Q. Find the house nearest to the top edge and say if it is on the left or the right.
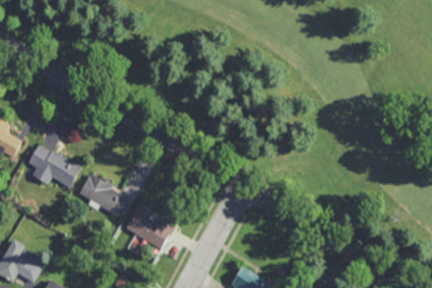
left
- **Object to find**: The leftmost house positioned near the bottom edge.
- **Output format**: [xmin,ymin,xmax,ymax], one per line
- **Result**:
[0,237,42,288]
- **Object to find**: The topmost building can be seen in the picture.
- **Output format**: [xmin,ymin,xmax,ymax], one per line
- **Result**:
[0,112,22,154]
